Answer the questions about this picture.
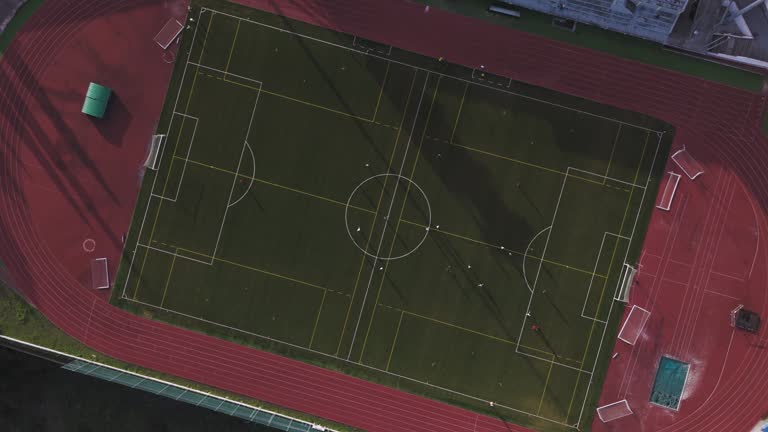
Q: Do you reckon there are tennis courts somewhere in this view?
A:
No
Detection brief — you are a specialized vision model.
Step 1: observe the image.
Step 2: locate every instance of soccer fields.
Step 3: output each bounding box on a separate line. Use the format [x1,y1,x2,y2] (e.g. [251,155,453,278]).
[105,0,681,432]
